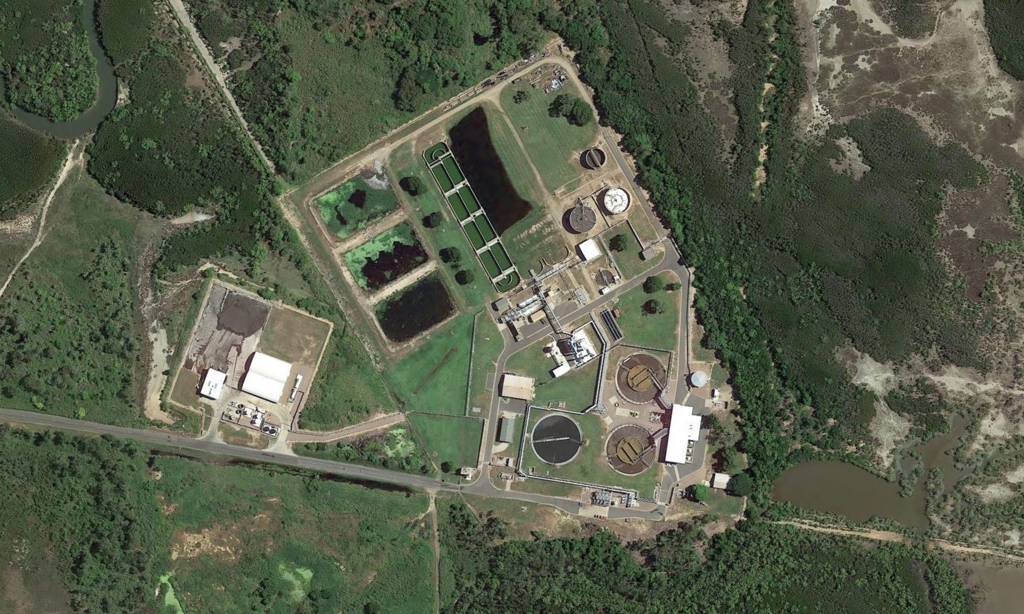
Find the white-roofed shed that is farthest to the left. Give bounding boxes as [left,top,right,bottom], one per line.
[199,368,226,399]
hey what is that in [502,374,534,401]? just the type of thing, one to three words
building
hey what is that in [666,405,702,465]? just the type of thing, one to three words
building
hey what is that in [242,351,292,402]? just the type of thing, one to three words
hangar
